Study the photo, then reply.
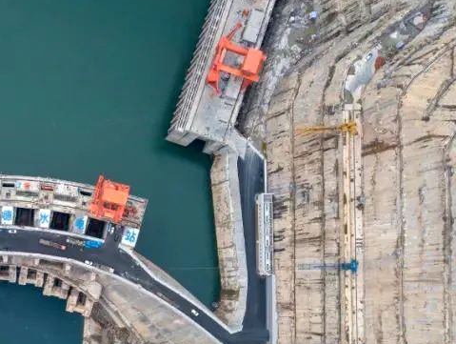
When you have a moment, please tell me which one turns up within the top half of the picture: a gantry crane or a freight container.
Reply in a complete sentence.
What appears within the top half of the picture is a gantry crane.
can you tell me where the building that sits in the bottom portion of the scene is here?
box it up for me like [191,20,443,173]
[253,192,274,276]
